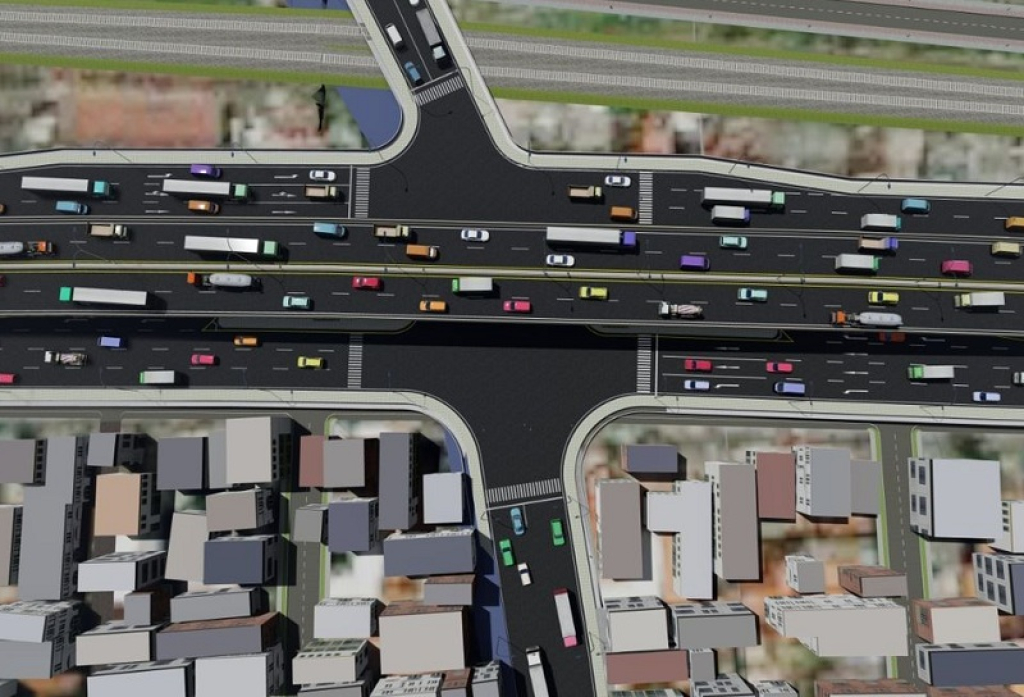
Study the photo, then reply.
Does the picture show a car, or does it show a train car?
car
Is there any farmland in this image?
No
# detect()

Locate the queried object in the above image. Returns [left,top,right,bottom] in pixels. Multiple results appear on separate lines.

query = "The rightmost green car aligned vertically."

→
[550,517,564,545]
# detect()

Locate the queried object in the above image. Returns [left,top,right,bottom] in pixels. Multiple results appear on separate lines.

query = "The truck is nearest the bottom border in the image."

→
[526,642,550,697]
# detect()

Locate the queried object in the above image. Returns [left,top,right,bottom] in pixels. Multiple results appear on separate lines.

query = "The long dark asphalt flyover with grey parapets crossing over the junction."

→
[0,215,1024,338]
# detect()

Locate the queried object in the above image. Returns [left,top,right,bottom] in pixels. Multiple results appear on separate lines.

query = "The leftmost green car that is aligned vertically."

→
[500,537,514,565]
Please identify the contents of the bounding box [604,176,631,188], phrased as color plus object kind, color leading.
white vehicle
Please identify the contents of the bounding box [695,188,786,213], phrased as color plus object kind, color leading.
white truck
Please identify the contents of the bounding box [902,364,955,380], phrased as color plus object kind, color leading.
white vehicle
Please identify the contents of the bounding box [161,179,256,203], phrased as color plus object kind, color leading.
white truck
